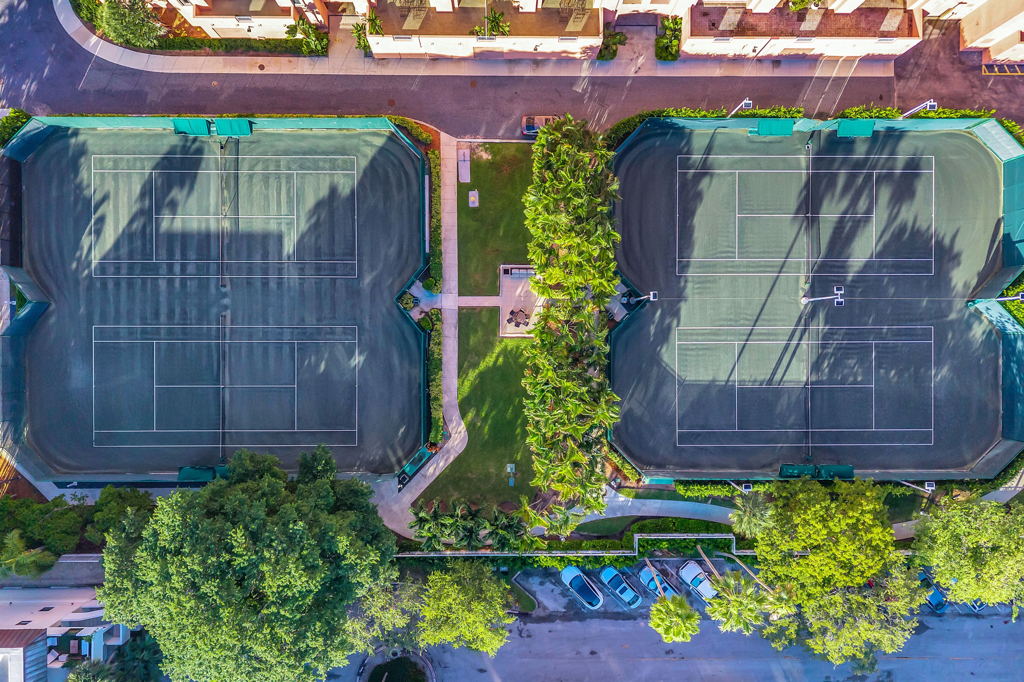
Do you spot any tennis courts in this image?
Yes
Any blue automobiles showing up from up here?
Yes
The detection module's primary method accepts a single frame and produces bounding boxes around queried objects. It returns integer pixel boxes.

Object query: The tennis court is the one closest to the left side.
[22,126,421,474]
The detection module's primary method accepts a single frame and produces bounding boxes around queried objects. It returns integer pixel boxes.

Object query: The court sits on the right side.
[611,129,1003,471]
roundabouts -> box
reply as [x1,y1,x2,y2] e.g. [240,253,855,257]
[356,646,435,682]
